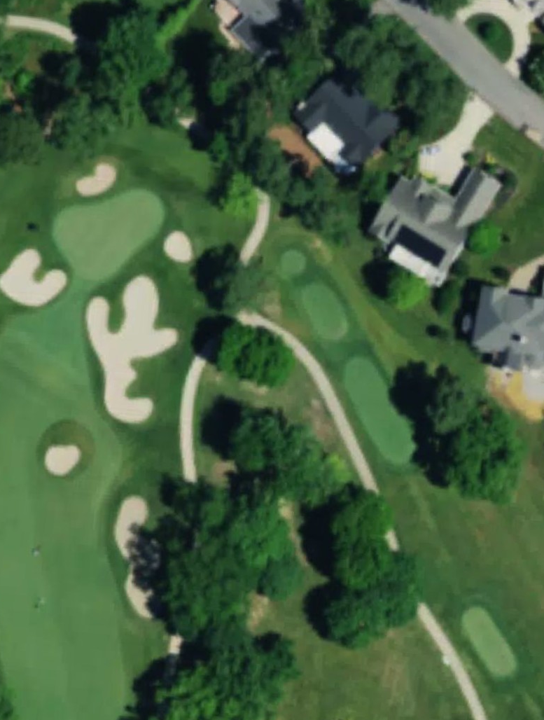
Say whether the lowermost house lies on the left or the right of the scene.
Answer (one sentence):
It is on the right.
